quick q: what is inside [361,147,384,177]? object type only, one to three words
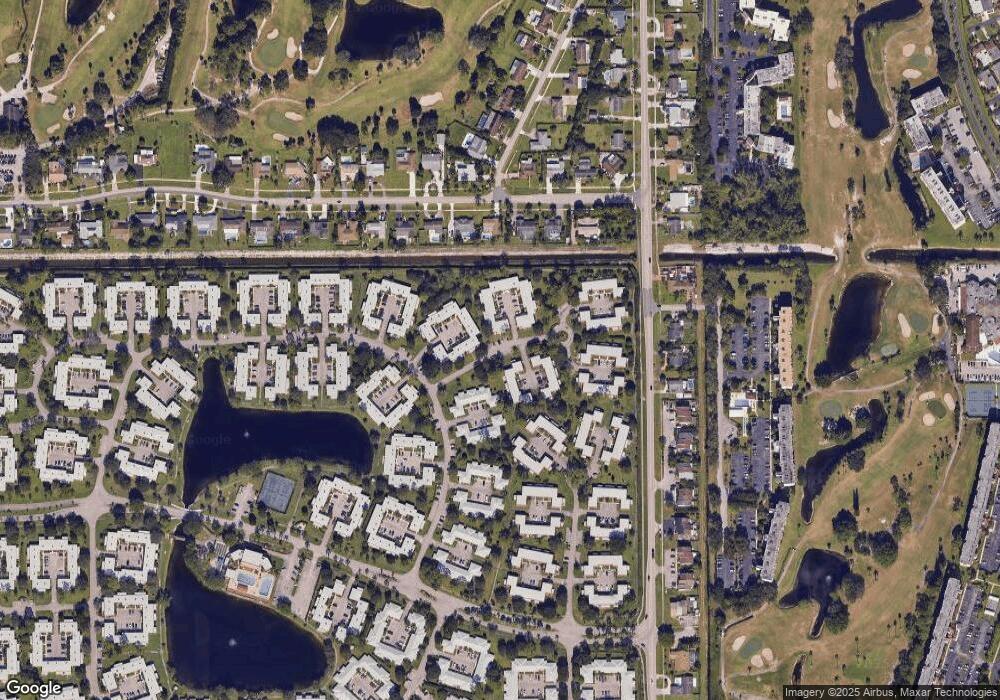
house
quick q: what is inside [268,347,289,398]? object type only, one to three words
building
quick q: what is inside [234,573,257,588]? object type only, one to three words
swimming pool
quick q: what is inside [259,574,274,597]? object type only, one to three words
swimming pool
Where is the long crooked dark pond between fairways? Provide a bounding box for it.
[802,398,887,522]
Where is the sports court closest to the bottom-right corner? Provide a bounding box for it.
[967,386,995,416]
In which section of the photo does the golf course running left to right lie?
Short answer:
top left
